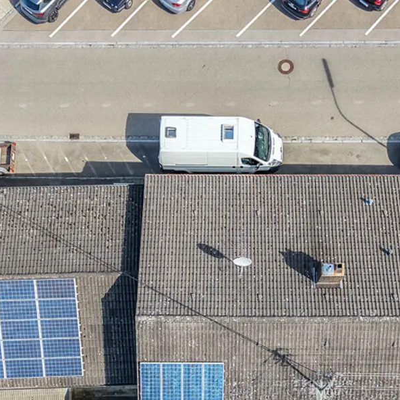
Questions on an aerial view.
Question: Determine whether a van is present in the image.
Yes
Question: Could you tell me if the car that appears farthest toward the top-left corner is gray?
Yes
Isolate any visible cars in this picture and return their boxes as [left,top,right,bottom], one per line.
[19,0,70,23]
[101,0,135,13]
[361,0,394,13]
[159,0,197,15]
[282,0,328,21]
